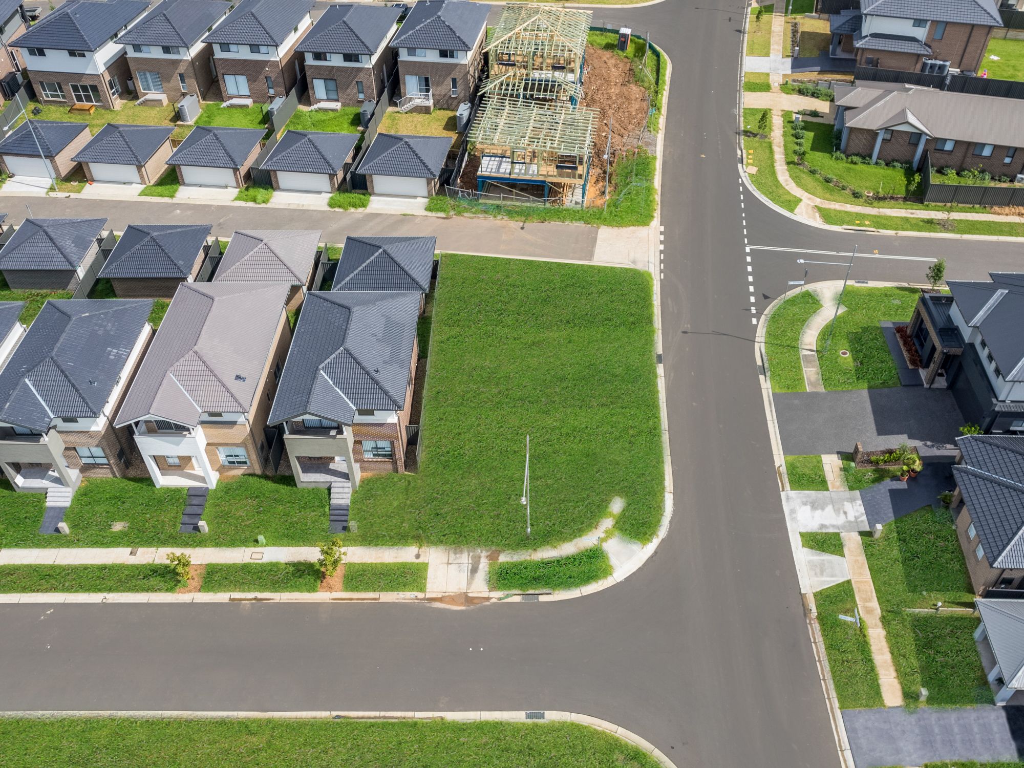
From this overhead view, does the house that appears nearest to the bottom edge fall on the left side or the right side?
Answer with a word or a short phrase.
right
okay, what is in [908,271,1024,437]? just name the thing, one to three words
house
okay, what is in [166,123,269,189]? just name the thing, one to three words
building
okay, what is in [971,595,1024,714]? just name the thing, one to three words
house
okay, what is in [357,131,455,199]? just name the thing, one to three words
building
